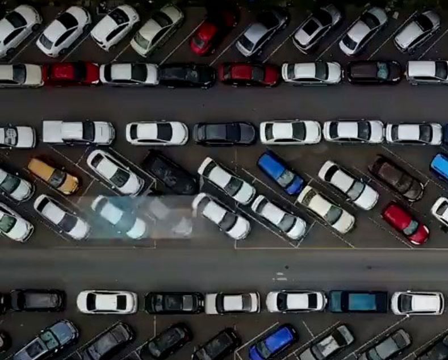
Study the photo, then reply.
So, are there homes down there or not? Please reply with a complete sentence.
No, I can't see a single home in this photo.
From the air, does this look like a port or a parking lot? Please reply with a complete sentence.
The picture captures a parking lot.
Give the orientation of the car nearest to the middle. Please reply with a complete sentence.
Seen from above, the car nearest to the middle lies on a diagonal.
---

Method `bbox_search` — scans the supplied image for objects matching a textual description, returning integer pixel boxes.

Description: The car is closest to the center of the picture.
[199,159,256,206]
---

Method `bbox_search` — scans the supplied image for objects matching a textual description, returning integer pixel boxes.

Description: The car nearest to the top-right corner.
[394,9,442,54]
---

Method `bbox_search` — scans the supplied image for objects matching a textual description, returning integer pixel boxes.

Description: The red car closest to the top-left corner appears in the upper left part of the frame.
[40,59,100,87]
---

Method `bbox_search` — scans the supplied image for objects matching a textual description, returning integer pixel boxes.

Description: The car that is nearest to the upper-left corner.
[0,6,43,59]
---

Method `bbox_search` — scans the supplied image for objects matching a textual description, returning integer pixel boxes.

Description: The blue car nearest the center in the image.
[254,149,302,196]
